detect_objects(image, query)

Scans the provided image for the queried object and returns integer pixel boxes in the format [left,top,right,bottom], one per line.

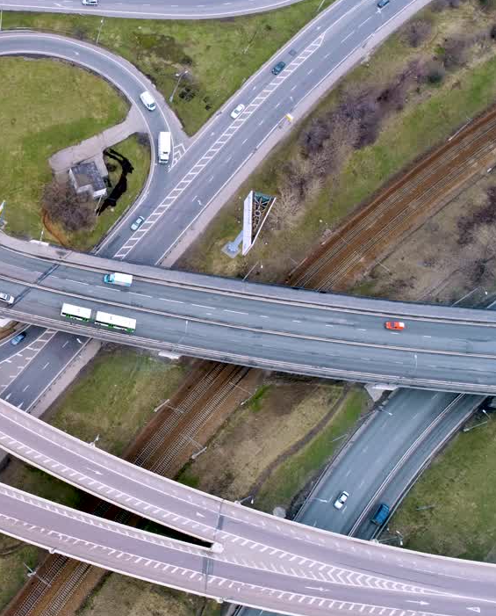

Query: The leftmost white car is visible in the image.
[0,292,15,304]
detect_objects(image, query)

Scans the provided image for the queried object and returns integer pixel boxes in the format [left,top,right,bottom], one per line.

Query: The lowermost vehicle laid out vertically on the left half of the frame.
[157,132,170,163]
